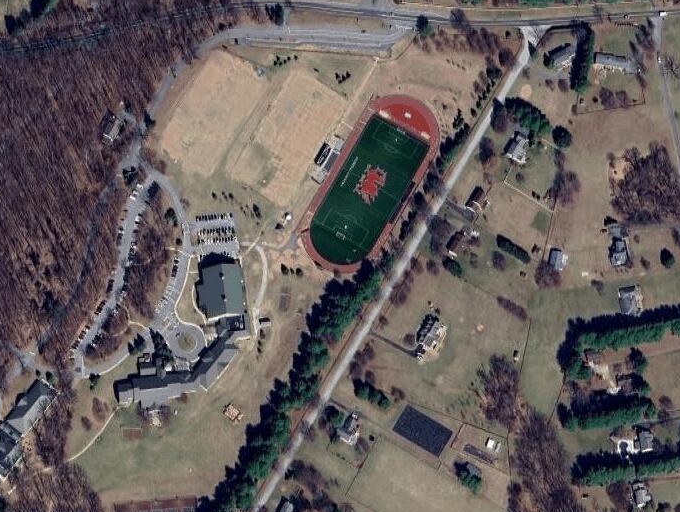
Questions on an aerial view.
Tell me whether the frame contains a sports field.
Yes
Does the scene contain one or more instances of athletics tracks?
Yes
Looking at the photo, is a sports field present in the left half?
Yes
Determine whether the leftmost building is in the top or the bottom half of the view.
bottom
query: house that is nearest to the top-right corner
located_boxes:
[594,50,637,73]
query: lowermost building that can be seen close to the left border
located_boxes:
[0,378,61,482]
